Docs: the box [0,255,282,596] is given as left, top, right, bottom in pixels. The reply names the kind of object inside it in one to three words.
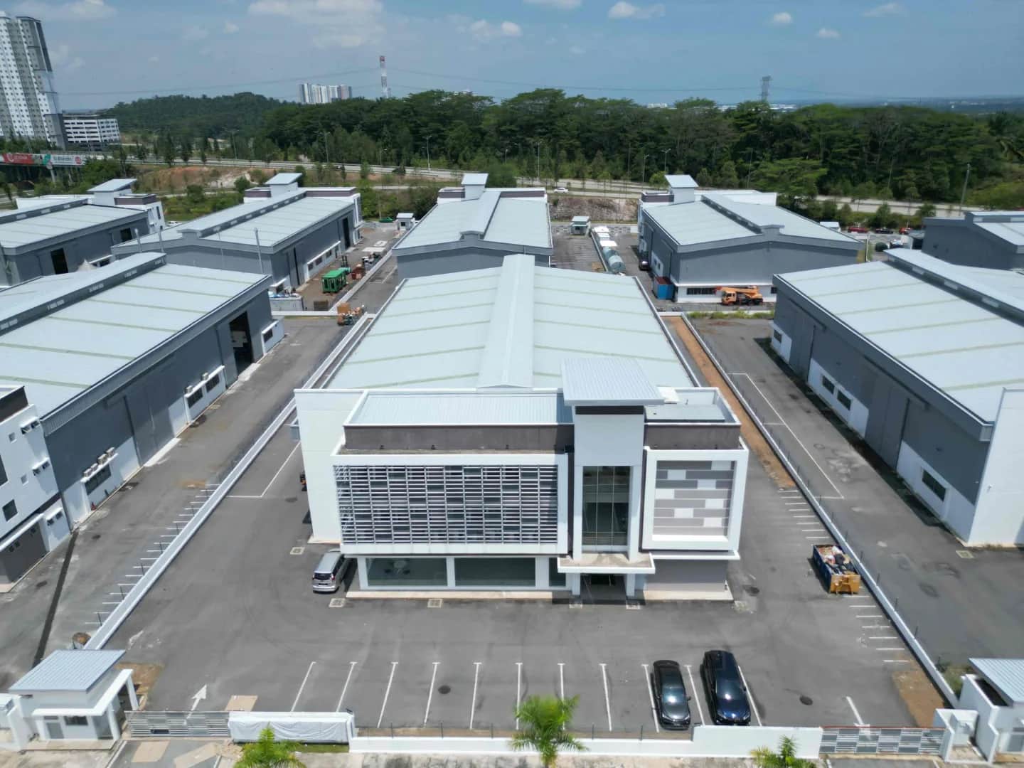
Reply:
building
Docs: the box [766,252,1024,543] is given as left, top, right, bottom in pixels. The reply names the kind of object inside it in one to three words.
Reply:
building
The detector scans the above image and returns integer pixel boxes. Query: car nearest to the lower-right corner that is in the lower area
[699,644,749,719]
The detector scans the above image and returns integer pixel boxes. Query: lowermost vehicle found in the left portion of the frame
[312,545,352,588]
